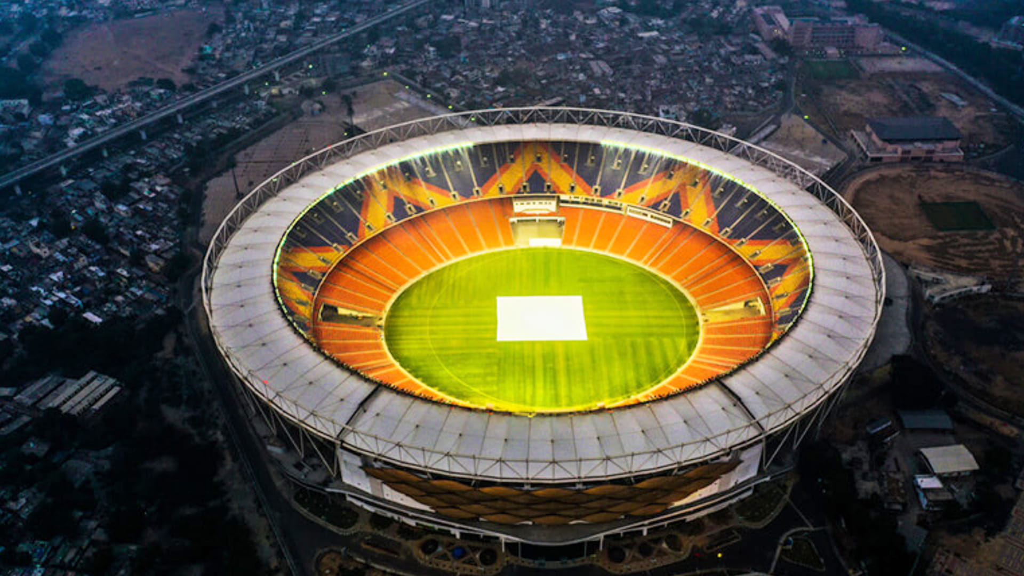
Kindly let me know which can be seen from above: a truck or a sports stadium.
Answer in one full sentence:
I can see a sports stadium in this picture.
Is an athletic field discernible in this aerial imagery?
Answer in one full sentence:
Yes, an athletic field can be made out from above.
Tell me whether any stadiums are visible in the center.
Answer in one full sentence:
Yes, in the center there is a stadium.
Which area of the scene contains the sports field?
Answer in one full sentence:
The sports field is located in the center region of the scene.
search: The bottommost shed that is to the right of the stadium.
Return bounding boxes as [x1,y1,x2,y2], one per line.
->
[897,523,928,561]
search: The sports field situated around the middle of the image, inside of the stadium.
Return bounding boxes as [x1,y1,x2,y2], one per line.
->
[384,247,698,411]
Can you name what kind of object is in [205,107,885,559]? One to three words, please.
stadium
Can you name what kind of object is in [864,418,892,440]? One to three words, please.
shed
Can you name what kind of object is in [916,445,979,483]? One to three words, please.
shed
